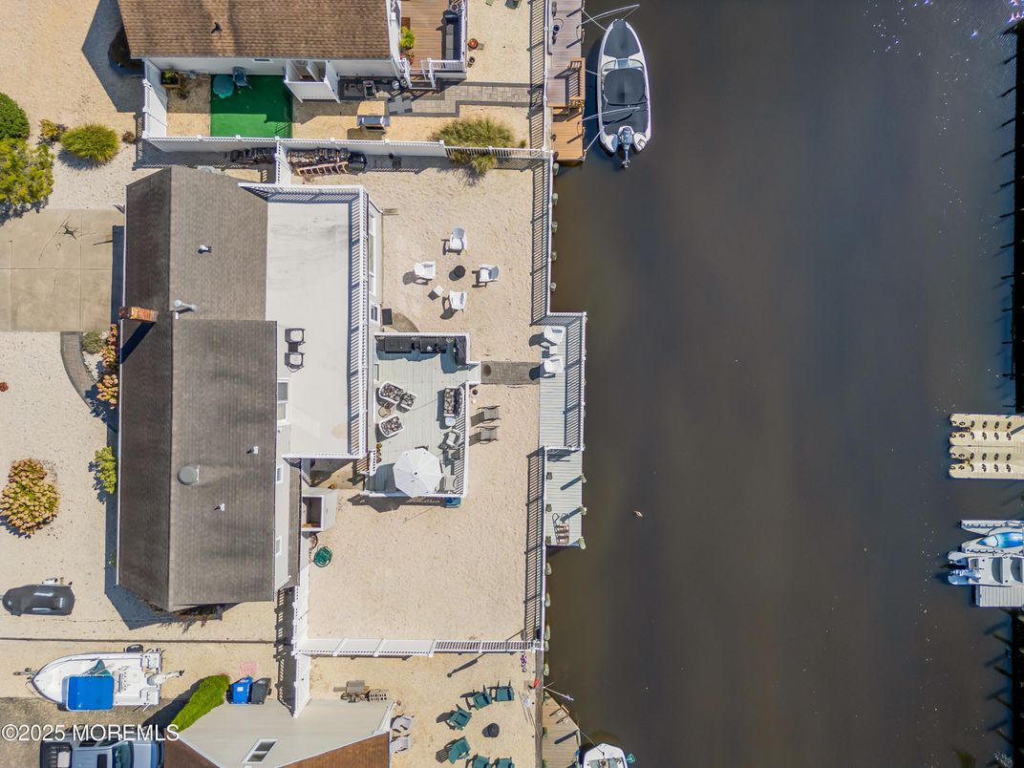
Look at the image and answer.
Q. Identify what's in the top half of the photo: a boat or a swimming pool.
boat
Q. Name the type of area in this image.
residential area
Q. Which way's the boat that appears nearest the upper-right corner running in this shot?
vertically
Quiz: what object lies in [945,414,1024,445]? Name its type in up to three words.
pier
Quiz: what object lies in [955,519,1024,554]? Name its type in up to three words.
pier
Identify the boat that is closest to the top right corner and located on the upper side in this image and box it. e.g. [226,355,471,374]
[596,16,650,163]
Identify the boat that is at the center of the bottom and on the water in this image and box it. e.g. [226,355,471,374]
[585,740,630,768]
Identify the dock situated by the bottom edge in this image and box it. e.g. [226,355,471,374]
[542,690,579,768]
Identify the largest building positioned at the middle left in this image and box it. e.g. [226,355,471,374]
[116,167,383,610]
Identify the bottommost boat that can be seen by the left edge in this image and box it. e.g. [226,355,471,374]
[29,651,177,715]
